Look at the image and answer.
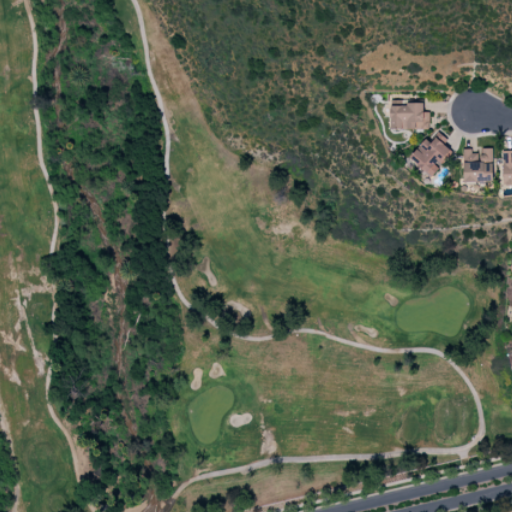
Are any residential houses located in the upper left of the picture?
No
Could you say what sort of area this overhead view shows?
golf course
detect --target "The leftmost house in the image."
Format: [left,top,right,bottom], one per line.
[390,99,431,129]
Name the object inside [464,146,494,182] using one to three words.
house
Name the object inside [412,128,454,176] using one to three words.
house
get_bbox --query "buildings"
[412,128,454,176]
[464,146,494,182]
[504,150,512,186]
[390,99,431,129]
